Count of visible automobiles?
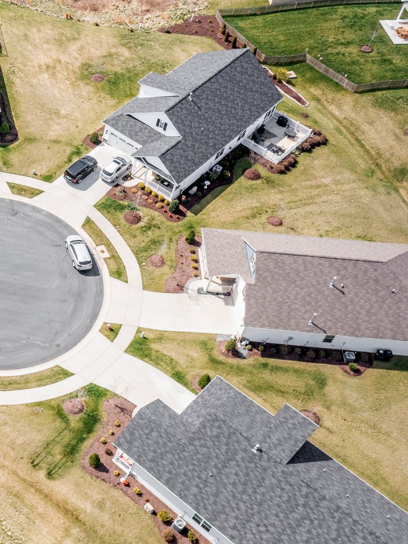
3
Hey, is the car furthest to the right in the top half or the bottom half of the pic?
top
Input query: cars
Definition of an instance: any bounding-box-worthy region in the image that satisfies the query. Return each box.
[64,235,94,273]
[64,156,99,185]
[98,155,134,184]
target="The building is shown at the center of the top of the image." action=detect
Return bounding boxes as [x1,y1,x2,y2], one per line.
[100,48,316,199]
